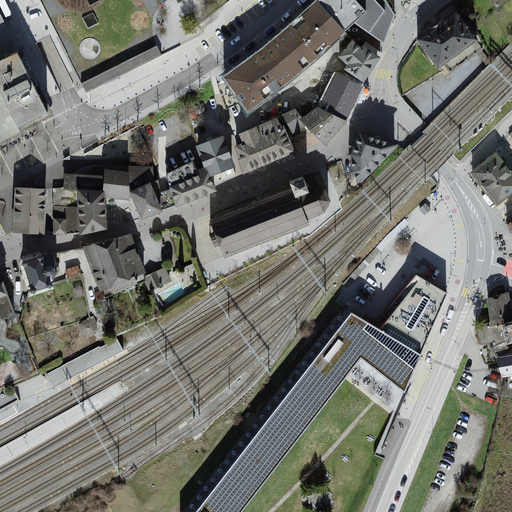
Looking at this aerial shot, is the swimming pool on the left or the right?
left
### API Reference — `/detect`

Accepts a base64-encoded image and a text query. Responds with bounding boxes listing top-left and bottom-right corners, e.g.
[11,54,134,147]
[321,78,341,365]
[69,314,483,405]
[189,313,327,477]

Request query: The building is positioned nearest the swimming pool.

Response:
[144,268,172,292]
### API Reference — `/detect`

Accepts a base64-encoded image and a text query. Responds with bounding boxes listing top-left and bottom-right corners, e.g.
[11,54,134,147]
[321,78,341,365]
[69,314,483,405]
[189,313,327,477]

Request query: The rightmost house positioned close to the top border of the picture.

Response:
[418,12,476,68]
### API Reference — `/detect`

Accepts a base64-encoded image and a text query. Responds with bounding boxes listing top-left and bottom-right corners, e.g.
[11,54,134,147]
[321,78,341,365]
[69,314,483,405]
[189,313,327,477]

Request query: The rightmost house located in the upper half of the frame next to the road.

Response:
[471,153,512,206]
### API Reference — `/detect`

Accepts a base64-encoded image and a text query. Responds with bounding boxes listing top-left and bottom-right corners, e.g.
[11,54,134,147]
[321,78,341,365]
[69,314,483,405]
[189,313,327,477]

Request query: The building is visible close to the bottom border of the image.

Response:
[196,312,422,512]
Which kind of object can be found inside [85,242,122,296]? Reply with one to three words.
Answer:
barn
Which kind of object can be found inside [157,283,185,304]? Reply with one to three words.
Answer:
swimming pool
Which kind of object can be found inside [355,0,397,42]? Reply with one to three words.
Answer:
building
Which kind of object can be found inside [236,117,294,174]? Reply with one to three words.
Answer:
house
